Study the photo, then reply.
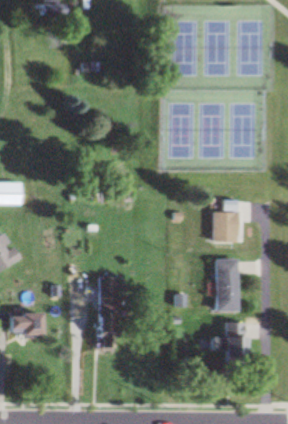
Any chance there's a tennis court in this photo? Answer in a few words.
Yes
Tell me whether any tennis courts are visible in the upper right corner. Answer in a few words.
Yes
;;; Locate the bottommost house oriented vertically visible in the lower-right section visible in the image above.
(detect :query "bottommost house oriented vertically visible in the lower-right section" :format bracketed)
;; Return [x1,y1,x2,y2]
[226,322,242,362]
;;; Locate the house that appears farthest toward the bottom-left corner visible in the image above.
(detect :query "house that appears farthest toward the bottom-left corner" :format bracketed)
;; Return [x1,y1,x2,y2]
[10,311,48,335]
